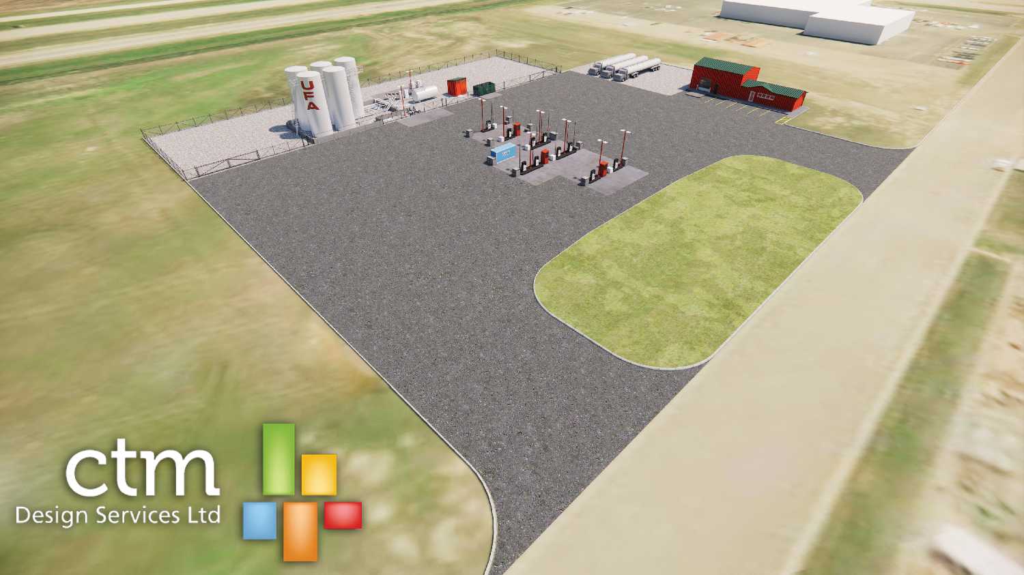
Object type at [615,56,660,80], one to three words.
truck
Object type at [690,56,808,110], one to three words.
building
